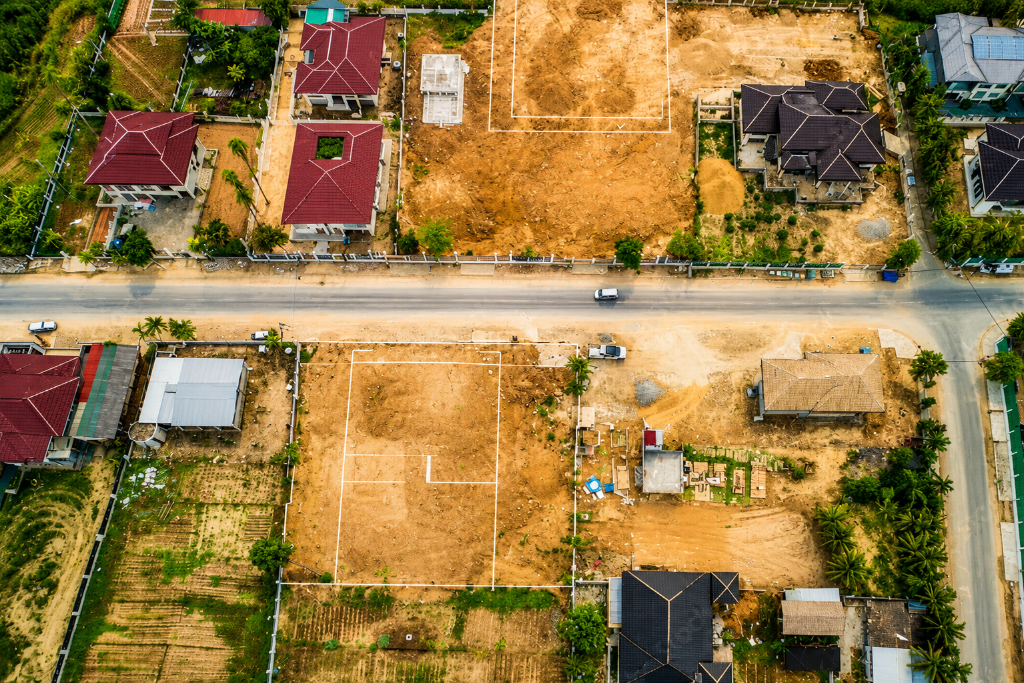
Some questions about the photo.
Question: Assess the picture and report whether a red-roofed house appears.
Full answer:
Yes, you can see a red-roofed house in this photo.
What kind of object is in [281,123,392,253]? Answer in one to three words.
house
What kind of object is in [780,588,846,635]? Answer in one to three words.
barn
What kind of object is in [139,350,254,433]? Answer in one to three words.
house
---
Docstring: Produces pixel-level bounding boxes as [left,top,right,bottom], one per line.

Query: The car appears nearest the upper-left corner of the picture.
[30,321,58,334]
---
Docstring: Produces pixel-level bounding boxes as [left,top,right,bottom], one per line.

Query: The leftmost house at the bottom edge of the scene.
[607,571,739,683]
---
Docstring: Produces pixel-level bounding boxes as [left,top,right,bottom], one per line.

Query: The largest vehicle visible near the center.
[589,346,625,360]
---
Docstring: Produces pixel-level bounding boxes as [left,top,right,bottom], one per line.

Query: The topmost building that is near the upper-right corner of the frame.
[919,12,1024,102]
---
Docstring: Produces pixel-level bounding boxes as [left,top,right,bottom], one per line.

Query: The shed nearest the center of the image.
[635,417,683,496]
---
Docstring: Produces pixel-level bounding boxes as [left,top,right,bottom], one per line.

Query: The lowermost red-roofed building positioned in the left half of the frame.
[0,341,86,466]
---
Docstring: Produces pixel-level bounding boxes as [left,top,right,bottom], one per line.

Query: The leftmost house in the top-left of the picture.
[83,111,218,209]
